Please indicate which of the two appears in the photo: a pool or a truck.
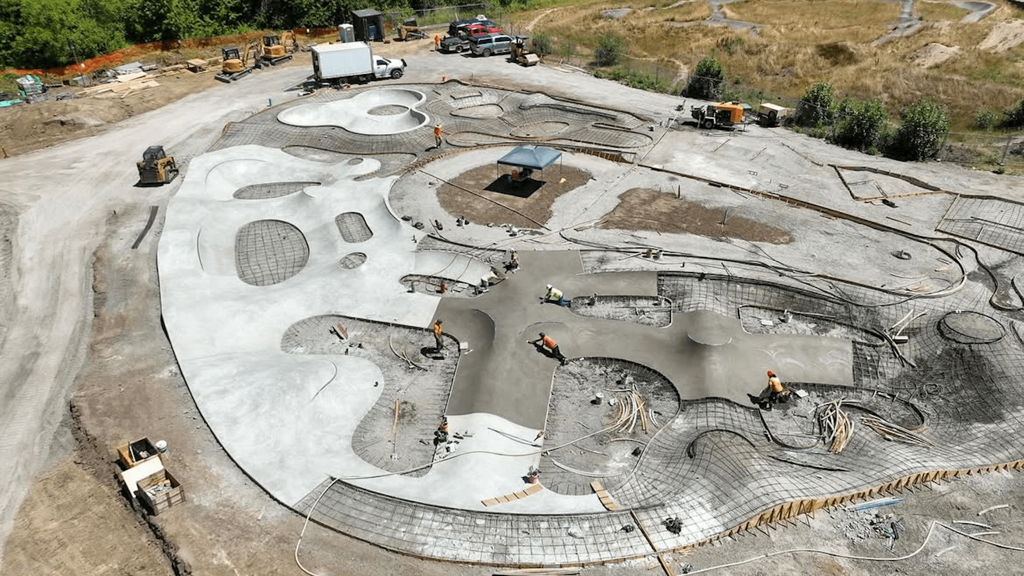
truck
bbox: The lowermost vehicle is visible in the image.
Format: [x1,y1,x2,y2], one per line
[134,143,177,188]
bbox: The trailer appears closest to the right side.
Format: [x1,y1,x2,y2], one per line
[756,98,797,126]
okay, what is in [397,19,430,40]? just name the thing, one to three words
work vehicle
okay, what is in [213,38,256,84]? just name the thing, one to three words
work vehicle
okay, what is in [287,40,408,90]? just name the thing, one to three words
truck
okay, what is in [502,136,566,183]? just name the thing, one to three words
tent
